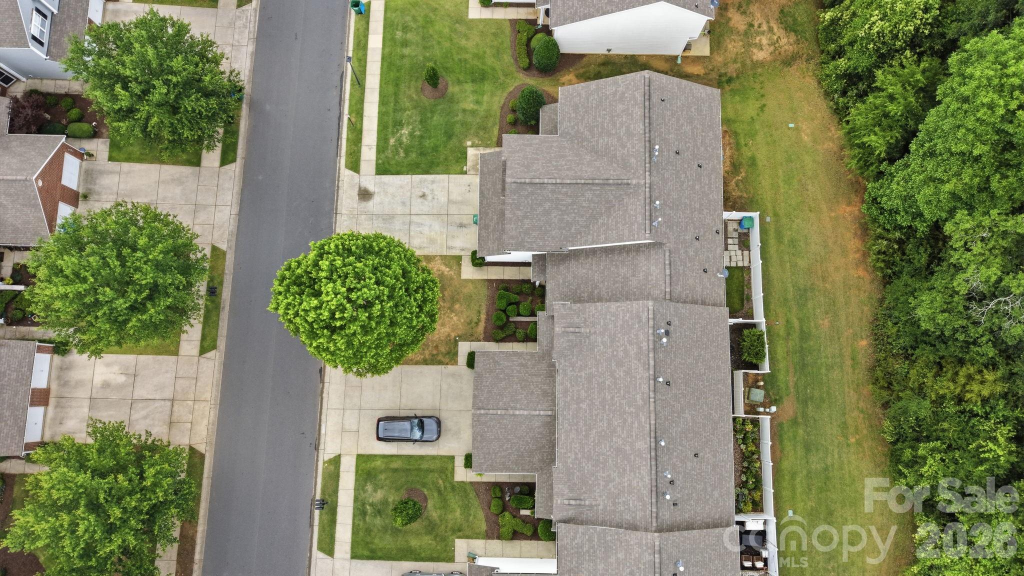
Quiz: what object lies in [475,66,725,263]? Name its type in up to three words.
house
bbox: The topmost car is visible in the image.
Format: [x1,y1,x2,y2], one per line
[374,412,441,446]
